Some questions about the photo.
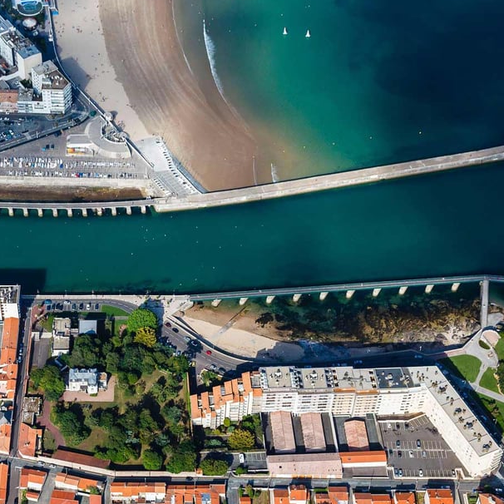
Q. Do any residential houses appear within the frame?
Yes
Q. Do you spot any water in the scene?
Yes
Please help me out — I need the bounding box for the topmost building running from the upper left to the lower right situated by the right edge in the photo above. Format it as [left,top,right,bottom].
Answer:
[416,366,503,479]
